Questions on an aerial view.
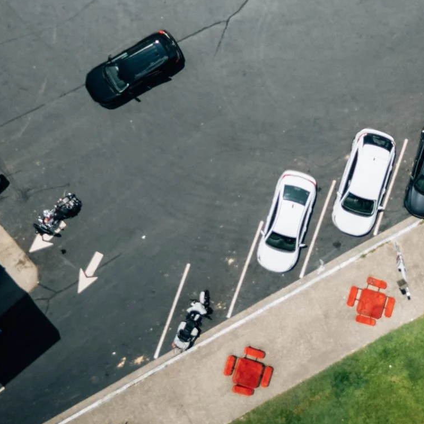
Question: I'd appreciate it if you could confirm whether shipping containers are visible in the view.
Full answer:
No, the photo shows no shipping container.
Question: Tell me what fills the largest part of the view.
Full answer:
The bulk of the photo consists of paved ground.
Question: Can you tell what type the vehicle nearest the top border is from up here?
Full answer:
It looks like the vehicle nearest the top border is a car.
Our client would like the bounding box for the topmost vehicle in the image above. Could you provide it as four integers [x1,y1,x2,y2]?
[85,29,185,100]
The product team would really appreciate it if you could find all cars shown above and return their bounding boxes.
[405,121,424,216]
[257,167,317,270]
[85,29,185,100]
[335,127,394,235]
